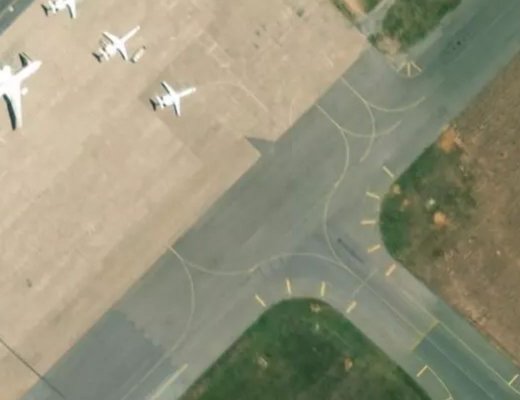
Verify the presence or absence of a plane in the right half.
No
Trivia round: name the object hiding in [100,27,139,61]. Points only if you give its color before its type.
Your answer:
white airplane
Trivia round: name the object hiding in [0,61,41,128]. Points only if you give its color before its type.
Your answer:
white airplane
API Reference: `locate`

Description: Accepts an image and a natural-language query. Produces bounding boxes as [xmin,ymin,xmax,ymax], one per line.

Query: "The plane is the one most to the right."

[156,81,196,116]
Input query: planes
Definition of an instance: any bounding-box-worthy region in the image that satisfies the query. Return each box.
[156,81,196,116]
[47,0,75,18]
[0,61,41,128]
[100,27,139,61]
